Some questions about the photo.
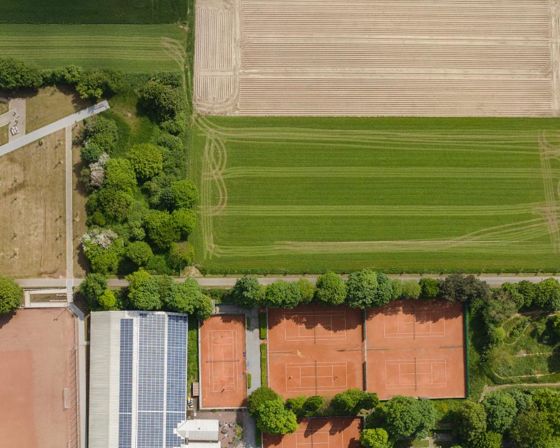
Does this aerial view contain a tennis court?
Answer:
Yes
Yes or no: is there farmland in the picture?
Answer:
Yes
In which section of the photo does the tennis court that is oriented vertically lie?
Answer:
bottom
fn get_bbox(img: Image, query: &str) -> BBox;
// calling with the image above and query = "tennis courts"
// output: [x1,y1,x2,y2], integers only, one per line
[262,415,364,448]
[269,354,366,399]
[267,306,364,355]
[200,314,247,408]
[367,348,468,400]
[367,301,467,350]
